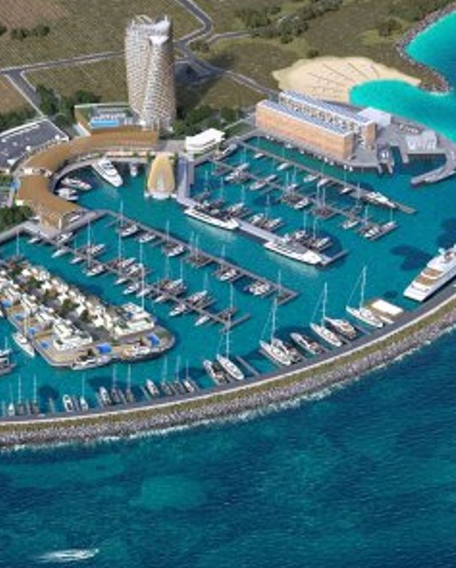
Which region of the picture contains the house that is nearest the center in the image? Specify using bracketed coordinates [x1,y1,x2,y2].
[113,304,156,333]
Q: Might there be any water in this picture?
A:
Yes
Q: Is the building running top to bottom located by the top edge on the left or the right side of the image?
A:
left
